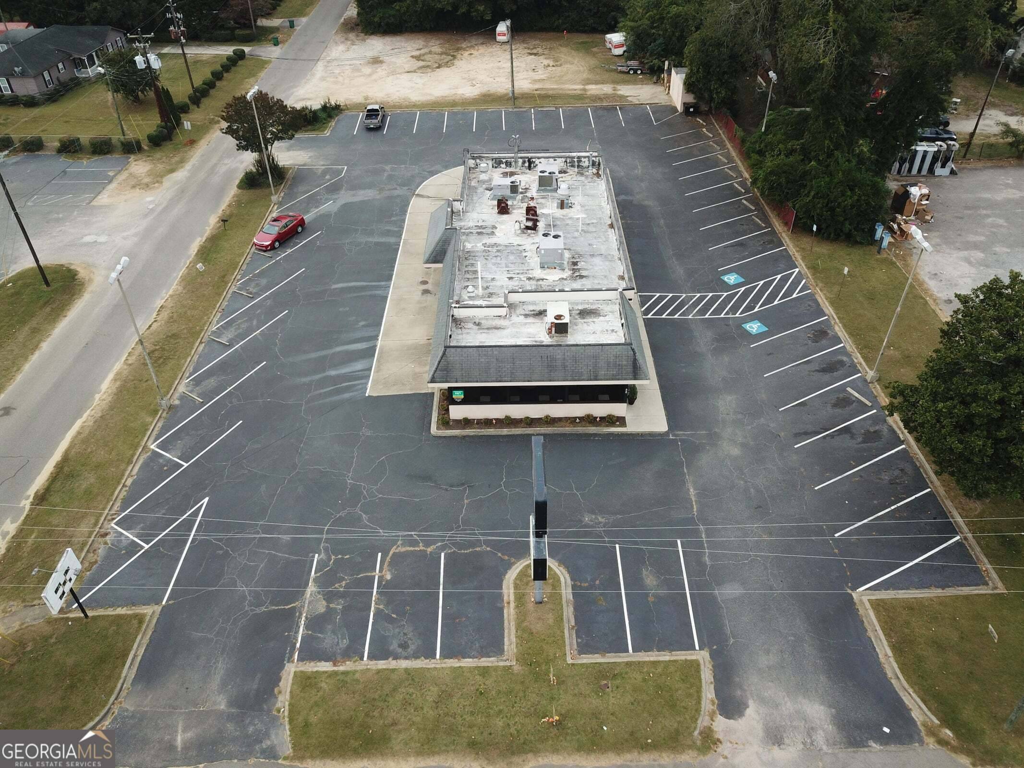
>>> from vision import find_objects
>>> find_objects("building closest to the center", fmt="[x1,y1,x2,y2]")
[422,133,651,419]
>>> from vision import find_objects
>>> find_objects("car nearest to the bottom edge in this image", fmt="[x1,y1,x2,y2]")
[252,212,306,249]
